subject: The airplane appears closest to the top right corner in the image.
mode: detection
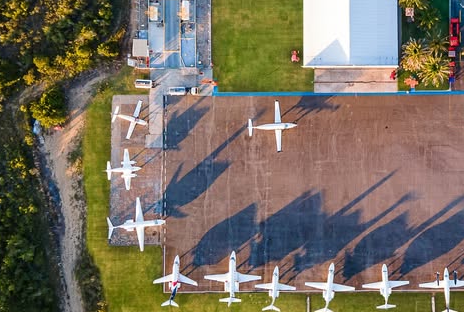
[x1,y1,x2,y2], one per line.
[248,100,298,153]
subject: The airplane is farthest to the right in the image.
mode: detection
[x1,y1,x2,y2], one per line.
[418,269,464,312]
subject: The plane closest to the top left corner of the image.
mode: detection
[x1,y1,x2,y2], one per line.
[112,99,148,140]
